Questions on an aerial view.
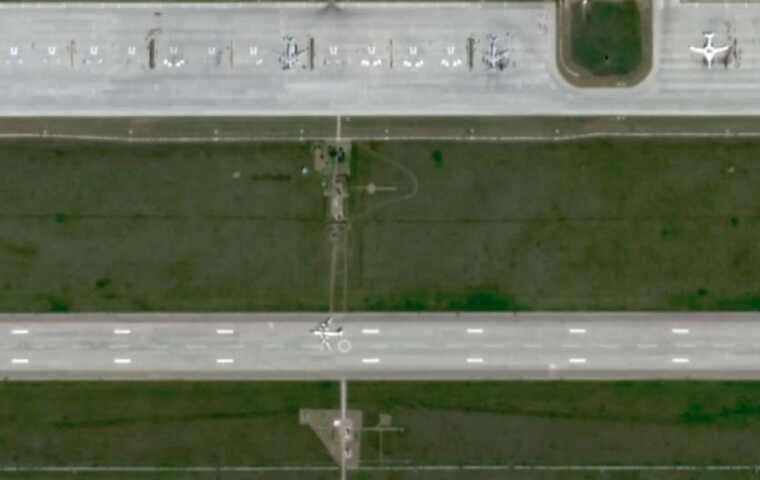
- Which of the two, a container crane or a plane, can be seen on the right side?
plane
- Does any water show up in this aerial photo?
No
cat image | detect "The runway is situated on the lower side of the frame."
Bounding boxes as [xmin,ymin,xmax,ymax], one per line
[0,312,760,381]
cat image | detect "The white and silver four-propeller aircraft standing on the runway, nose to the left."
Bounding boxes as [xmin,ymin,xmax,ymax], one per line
[312,317,344,350]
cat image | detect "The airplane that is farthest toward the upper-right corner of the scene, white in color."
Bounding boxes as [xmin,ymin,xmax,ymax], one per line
[691,33,728,69]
